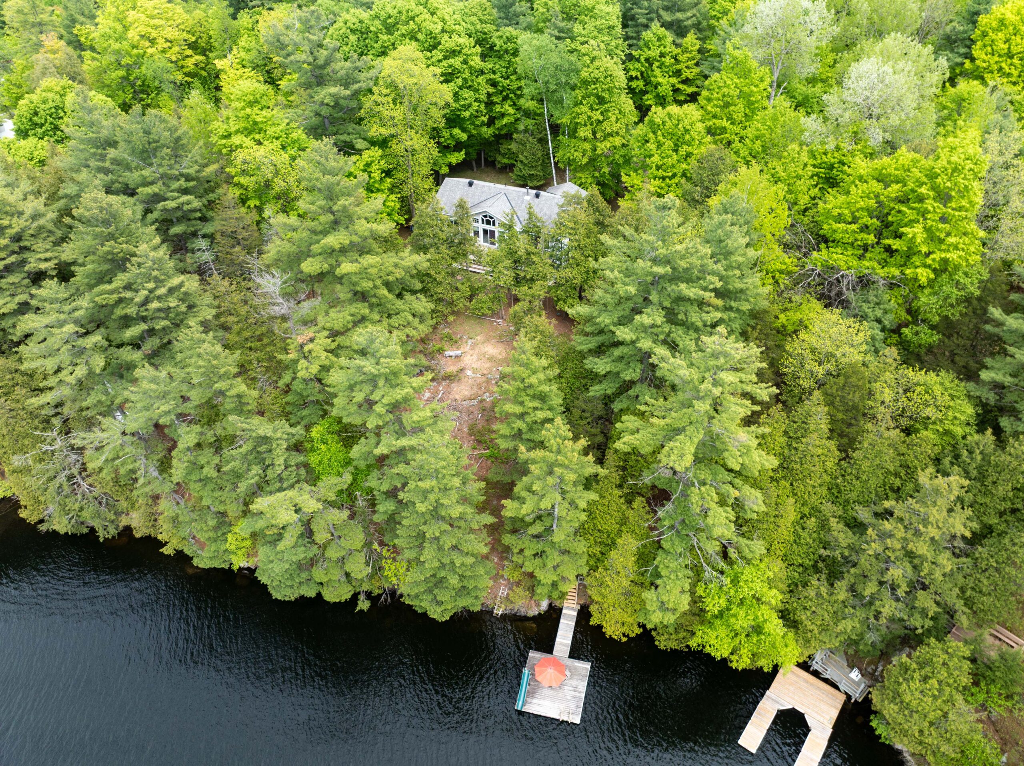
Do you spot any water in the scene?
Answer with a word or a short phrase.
Yes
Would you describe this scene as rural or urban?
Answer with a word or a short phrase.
rural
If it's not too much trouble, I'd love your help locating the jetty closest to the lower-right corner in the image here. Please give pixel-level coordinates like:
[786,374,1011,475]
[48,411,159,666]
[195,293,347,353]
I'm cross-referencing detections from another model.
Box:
[737,659,845,766]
